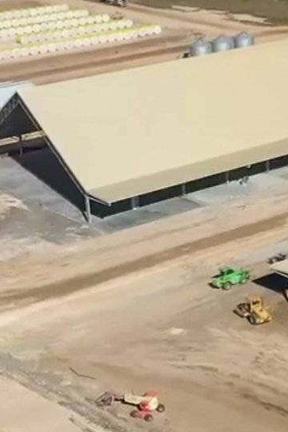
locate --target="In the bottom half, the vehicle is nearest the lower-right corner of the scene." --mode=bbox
[230,296,272,323]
